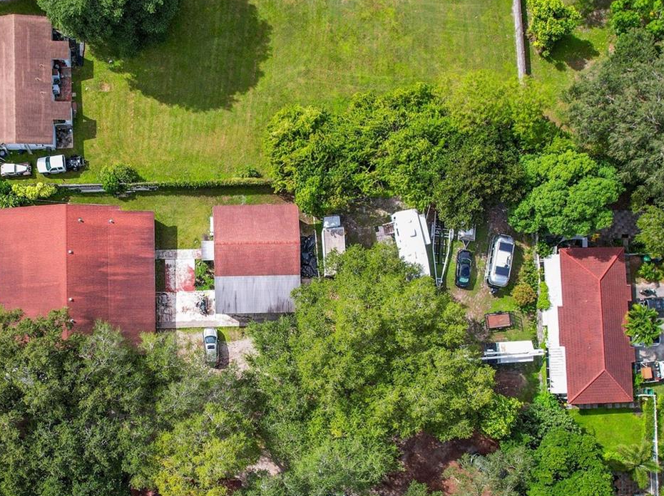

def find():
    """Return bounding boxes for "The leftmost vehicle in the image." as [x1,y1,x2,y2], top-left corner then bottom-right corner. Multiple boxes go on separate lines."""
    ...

[0,163,30,179]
